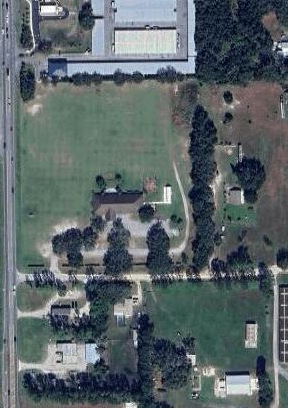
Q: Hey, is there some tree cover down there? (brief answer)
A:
Yes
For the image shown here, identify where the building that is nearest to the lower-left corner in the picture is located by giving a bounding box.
[58,344,77,364]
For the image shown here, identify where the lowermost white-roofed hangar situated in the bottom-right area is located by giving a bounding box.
[226,375,251,395]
